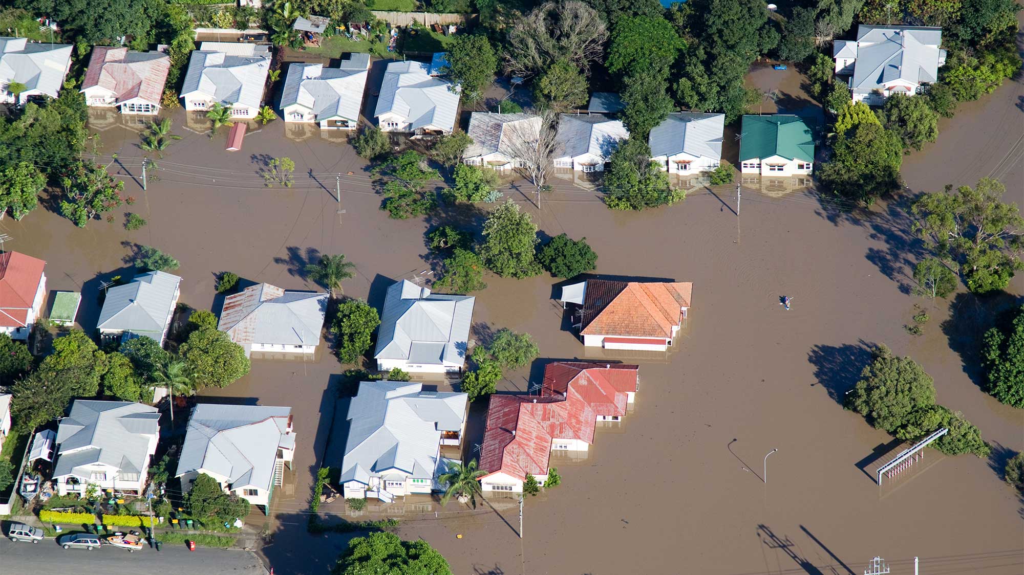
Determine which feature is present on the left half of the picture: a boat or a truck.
boat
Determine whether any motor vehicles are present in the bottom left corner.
Yes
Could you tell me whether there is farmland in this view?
No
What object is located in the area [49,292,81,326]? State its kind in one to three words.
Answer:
shed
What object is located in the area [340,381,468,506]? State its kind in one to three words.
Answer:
house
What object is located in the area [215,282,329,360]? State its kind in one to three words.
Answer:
house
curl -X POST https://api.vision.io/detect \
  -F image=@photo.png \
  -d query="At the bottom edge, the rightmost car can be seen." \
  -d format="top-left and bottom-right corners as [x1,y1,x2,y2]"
[58,532,100,551]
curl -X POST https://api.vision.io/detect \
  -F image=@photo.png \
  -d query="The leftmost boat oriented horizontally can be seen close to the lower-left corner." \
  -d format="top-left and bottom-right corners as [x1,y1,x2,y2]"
[100,533,146,556]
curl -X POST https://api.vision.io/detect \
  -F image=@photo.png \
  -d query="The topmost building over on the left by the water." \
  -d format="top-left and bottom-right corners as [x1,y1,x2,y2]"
[293,15,331,49]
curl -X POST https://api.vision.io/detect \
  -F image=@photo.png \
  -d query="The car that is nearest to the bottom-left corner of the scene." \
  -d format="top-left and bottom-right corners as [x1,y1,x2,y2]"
[6,523,45,544]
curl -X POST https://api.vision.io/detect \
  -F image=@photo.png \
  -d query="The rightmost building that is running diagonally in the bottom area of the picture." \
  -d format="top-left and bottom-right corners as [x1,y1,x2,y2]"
[471,362,639,490]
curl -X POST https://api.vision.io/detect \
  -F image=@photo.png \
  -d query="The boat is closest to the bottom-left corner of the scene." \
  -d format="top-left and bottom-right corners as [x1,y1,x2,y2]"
[21,472,39,507]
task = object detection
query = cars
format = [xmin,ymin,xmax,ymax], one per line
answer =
[6,523,45,544]
[58,532,100,551]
